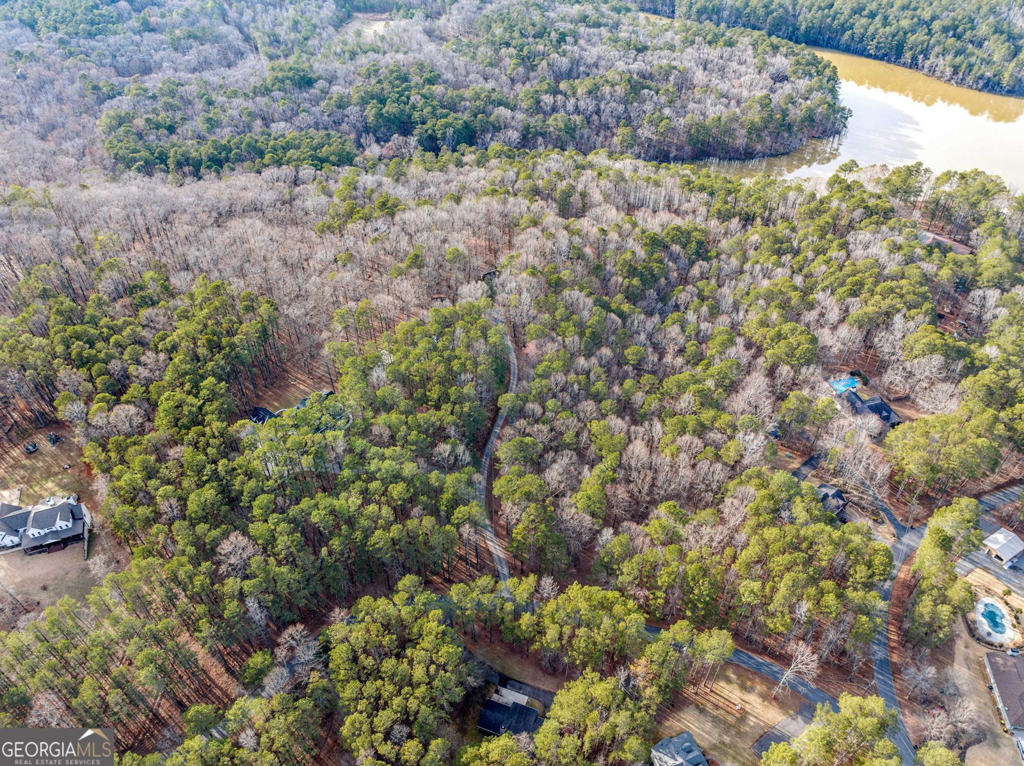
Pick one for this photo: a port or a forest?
forest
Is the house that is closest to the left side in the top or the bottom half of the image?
bottom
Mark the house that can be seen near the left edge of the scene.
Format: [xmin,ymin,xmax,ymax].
[0,488,97,565]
